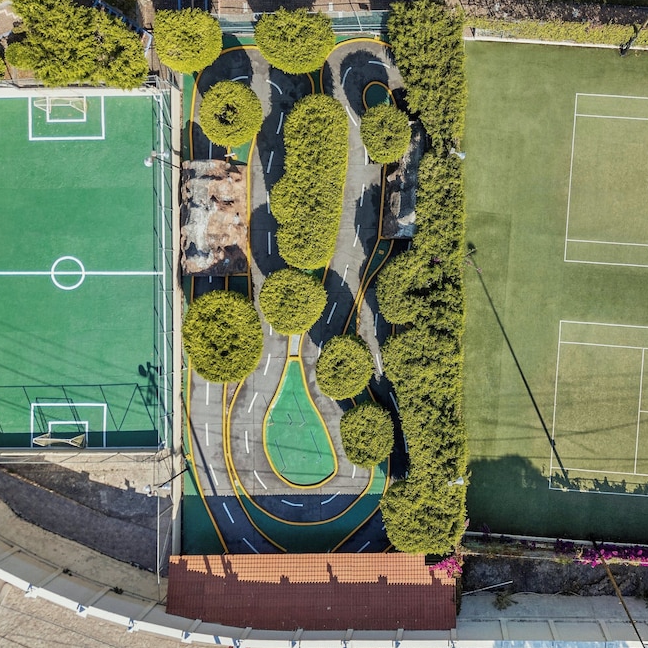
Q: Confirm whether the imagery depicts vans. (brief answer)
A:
No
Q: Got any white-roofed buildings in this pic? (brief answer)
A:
No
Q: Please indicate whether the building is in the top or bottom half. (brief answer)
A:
bottom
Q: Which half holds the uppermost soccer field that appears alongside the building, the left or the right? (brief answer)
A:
left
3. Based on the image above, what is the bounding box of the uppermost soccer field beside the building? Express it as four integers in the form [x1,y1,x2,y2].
[0,94,172,444]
